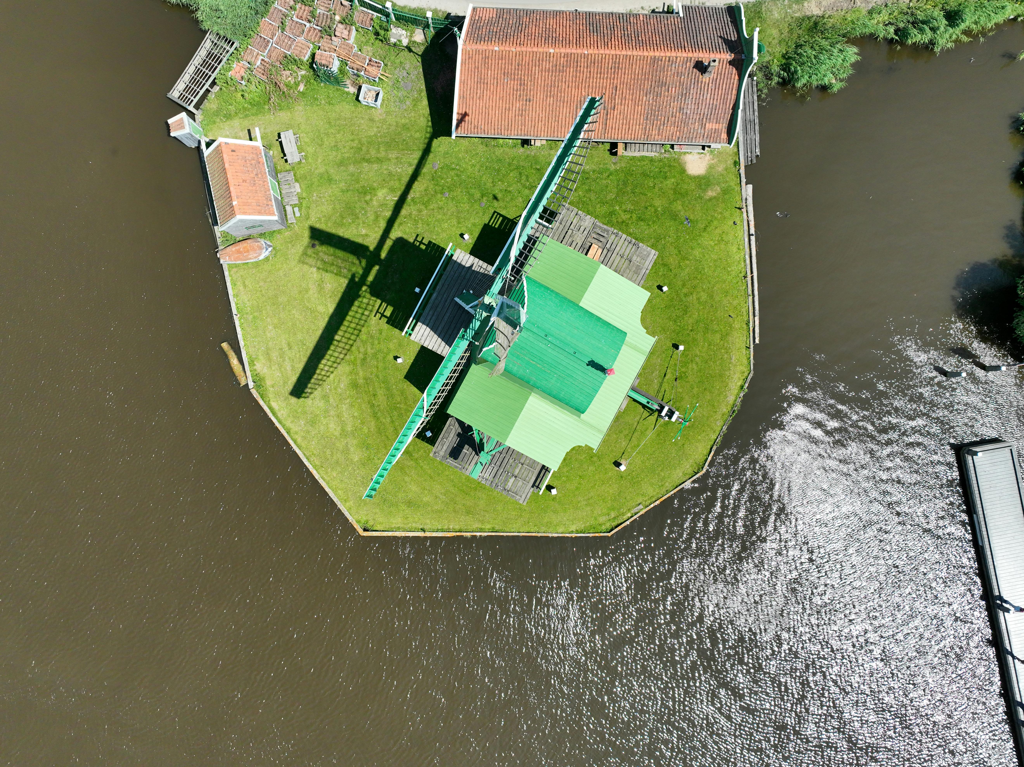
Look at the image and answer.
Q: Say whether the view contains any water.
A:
Yes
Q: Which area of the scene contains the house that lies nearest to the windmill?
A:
top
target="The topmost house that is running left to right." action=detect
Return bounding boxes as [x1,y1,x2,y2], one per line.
[439,0,762,149]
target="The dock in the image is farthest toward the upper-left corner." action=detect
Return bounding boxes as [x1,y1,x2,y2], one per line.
[165,28,237,117]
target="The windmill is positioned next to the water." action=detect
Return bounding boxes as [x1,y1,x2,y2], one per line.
[359,93,697,507]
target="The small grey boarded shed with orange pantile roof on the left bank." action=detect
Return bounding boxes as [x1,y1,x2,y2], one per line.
[201,127,286,235]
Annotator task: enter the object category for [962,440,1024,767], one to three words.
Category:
pier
